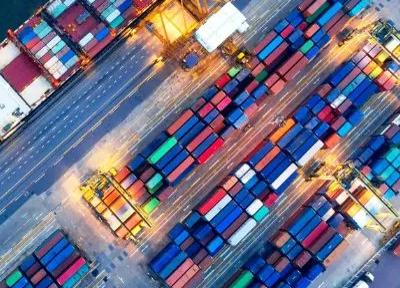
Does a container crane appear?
Yes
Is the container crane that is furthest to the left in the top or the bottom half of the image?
bottom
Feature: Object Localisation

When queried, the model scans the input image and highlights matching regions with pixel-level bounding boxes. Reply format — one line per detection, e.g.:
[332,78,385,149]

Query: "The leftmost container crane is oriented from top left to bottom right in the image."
[80,169,153,244]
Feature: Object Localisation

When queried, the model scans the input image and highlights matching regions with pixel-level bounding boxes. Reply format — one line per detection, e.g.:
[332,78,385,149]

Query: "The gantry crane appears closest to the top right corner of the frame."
[338,16,400,63]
